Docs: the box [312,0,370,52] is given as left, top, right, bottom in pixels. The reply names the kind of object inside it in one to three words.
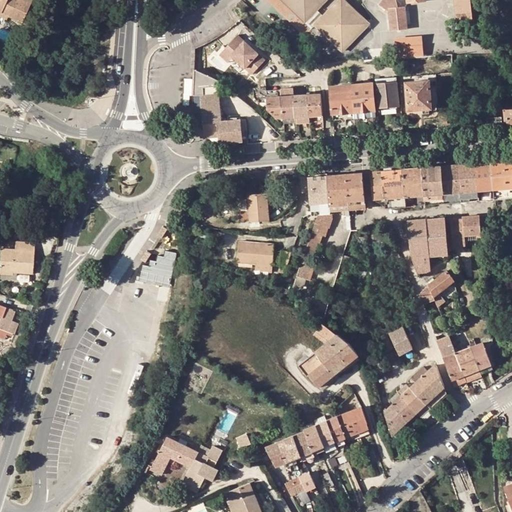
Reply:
building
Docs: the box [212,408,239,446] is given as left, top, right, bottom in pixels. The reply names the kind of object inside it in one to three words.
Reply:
swimming pool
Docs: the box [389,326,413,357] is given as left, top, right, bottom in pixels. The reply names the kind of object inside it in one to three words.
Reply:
shed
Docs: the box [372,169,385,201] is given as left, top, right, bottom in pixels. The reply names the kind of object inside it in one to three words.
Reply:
house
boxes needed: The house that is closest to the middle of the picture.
[236,240,274,274]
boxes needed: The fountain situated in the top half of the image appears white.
[120,164,138,182]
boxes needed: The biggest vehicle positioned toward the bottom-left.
[127,366,146,396]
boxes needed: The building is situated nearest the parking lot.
[138,250,176,286]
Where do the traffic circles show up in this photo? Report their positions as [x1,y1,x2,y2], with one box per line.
[88,131,174,216]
